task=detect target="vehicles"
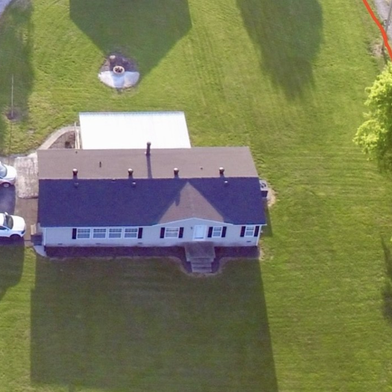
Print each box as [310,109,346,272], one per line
[0,162,17,190]
[0,213,25,242]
